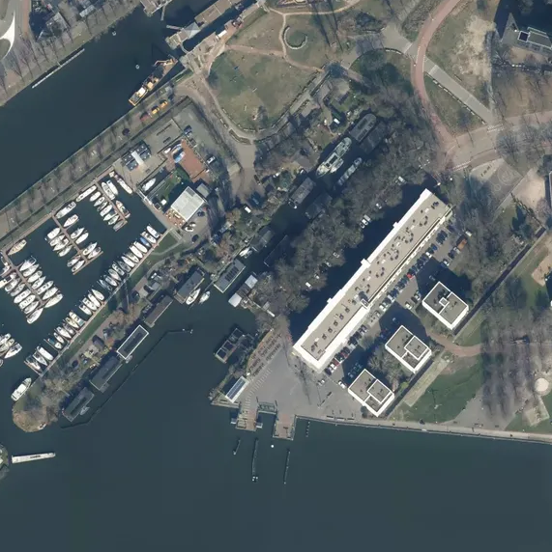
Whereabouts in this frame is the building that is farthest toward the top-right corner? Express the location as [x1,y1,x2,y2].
[499,14,552,57]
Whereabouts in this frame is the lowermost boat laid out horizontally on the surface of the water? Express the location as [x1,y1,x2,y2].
[11,451,57,464]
